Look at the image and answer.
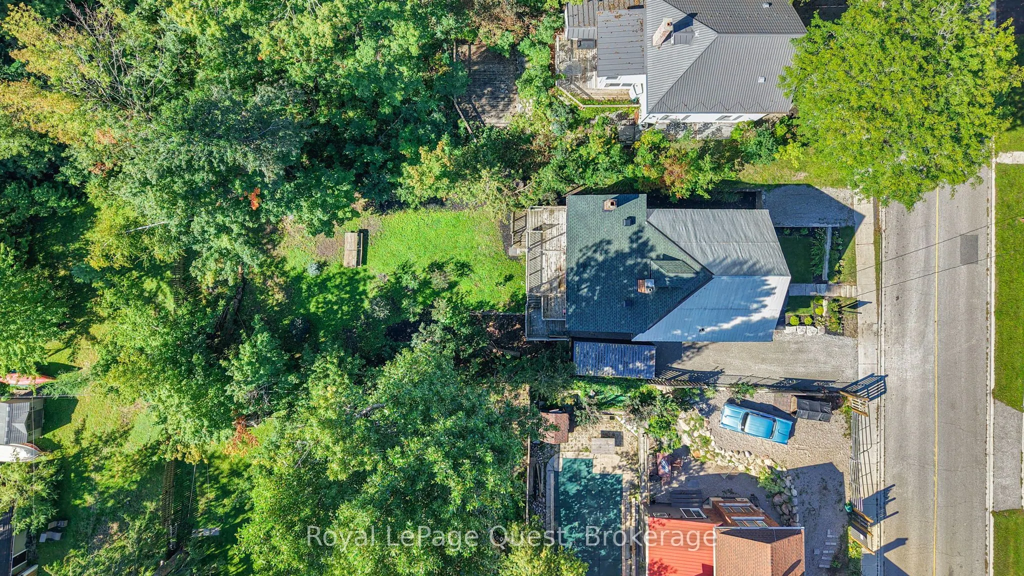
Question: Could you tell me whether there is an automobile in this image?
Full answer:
Yes, the picture does show an automobile.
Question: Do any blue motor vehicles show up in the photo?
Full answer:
Yes, the frame does contain a blue motor vehicle.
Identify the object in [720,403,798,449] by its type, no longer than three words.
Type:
car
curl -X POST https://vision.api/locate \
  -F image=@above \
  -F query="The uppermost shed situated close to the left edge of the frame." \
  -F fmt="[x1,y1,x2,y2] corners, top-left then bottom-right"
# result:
[0,399,44,444]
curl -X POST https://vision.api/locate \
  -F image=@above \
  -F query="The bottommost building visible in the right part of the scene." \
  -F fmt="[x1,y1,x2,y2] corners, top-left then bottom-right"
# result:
[644,491,806,576]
